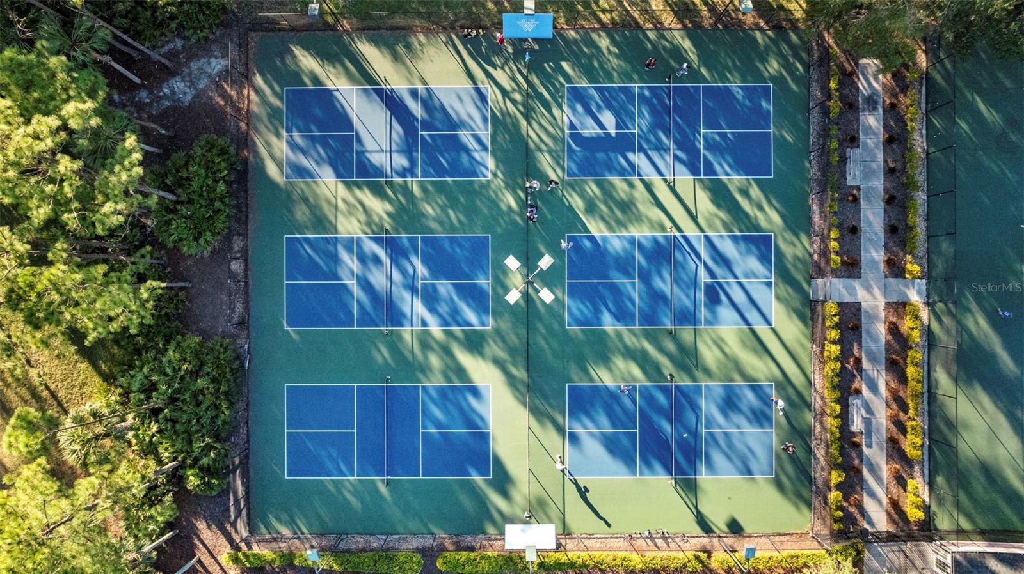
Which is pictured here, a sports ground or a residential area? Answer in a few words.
sports ground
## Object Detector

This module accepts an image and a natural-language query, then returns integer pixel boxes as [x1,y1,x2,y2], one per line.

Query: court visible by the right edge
[928,0,1024,533]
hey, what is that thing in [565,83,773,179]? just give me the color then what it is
blue sports court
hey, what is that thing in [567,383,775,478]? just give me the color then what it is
blue sports court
